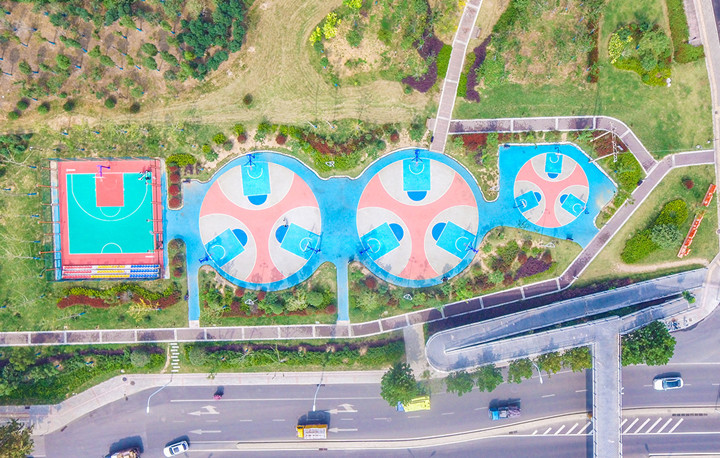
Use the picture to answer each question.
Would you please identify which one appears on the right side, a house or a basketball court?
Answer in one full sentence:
The one visible on the right side is a basketball court.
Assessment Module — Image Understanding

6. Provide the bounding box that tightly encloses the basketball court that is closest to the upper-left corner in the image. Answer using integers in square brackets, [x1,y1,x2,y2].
[51,160,168,281]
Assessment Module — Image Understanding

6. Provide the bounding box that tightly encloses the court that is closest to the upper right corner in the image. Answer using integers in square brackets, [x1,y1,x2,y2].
[513,151,590,228]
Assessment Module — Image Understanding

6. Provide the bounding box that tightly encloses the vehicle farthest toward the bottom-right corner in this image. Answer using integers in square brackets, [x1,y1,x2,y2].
[653,377,683,392]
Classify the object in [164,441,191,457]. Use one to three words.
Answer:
car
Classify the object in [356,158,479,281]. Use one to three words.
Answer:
basketball court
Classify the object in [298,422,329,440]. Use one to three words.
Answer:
vehicle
